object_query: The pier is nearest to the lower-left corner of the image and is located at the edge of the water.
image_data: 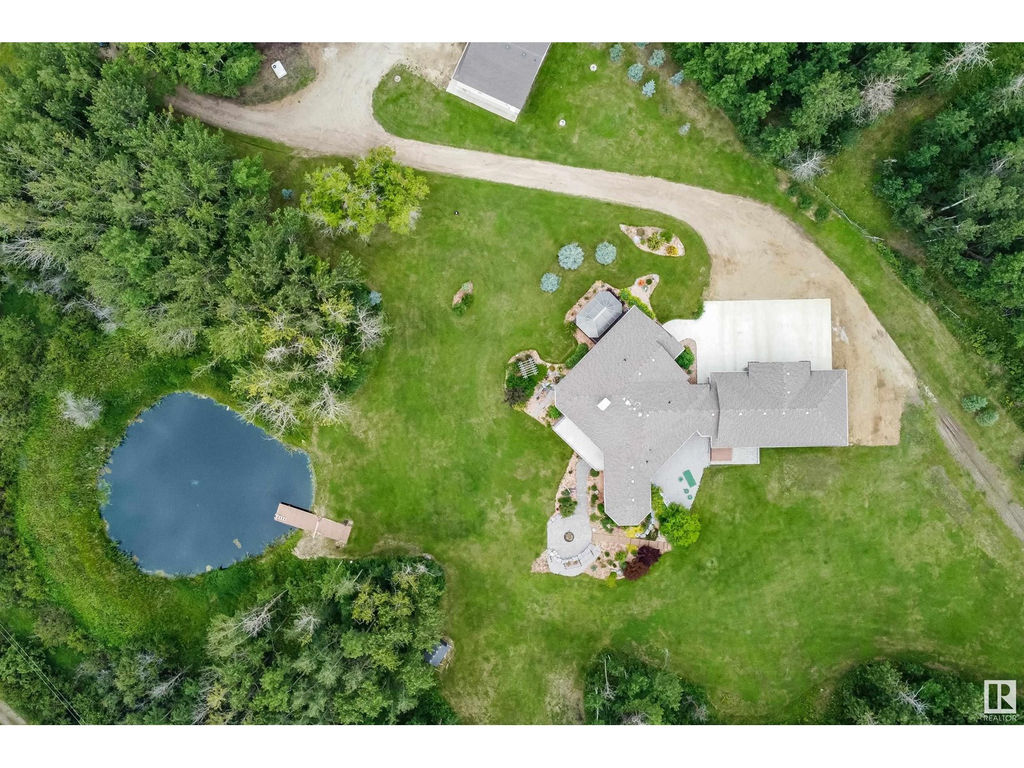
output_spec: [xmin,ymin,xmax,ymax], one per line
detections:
[274,501,351,544]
